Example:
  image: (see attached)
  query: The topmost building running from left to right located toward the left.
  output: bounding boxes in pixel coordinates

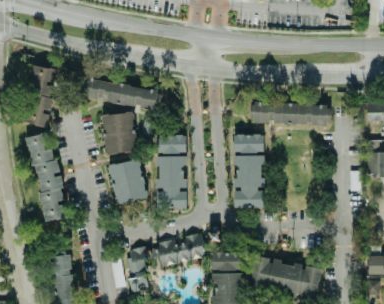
[88,78,162,110]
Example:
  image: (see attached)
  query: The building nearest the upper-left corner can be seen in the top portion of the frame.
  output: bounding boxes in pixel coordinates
[26,66,57,128]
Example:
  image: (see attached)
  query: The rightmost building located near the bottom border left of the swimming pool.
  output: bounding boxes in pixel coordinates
[128,248,149,293]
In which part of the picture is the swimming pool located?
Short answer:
bottom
